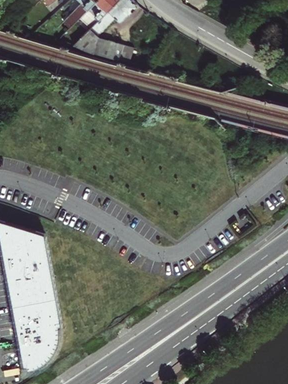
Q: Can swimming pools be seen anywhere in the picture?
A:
No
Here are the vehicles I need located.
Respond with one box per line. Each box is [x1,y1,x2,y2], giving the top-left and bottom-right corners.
[82,188,90,200]
[265,199,274,209]
[97,232,105,242]
[26,198,33,208]
[212,238,222,248]
[68,216,76,228]
[58,209,66,220]
[166,264,171,275]
[218,232,228,244]
[102,234,110,244]
[12,190,19,202]
[224,229,233,239]
[276,190,286,202]
[0,186,6,198]
[270,194,280,206]
[63,213,72,225]
[119,246,126,256]
[128,252,136,264]
[186,258,194,268]
[206,242,216,254]
[130,217,138,228]
[20,194,28,206]
[180,260,187,272]
[0,308,8,313]
[74,218,82,230]
[6,190,12,200]
[102,198,110,208]
[174,264,180,275]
